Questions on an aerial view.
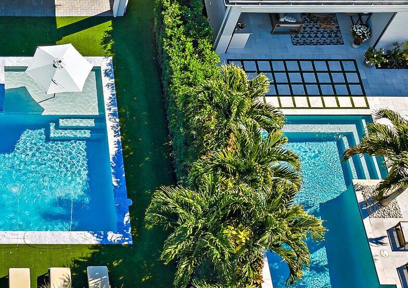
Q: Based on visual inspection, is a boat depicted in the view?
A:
No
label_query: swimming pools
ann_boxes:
[259,108,406,288]
[0,56,131,244]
